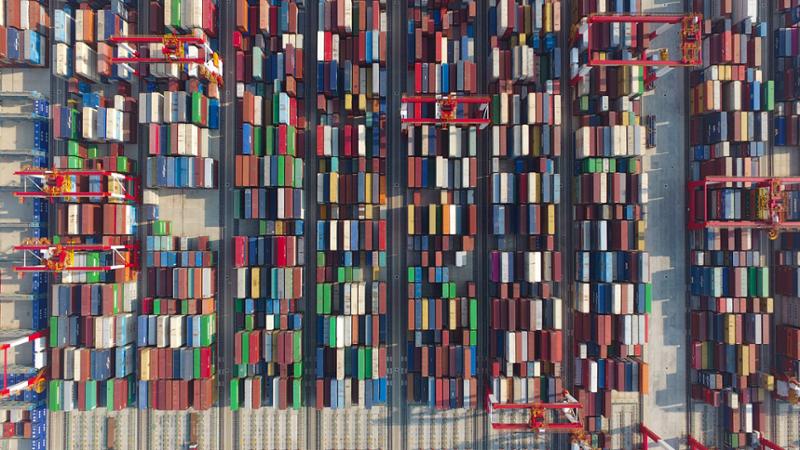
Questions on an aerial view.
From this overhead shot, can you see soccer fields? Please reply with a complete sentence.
No, there is no soccer field in the image.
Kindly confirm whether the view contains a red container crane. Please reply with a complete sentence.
Yes, there's a red container crane down there.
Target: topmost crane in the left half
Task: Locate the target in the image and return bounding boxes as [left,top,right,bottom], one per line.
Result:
[111,30,230,111]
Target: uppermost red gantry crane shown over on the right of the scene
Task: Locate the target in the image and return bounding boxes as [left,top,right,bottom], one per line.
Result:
[566,10,705,84]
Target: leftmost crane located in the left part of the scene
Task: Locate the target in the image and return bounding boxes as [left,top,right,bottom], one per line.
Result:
[0,328,48,396]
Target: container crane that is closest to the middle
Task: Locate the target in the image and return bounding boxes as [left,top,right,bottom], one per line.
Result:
[400,93,491,140]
